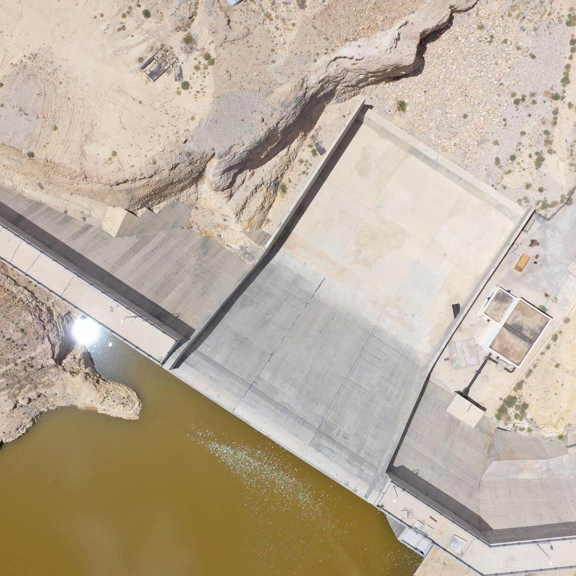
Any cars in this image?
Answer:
No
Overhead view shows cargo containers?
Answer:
No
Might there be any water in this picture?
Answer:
Yes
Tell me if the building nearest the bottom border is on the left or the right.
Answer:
right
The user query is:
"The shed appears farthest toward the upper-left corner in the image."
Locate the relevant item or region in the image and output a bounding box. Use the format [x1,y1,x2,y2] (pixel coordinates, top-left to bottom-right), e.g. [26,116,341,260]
[141,46,177,84]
